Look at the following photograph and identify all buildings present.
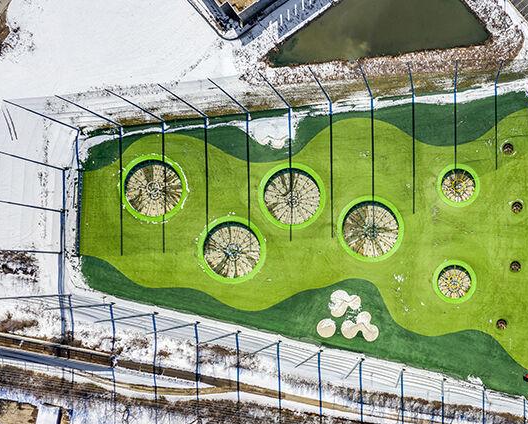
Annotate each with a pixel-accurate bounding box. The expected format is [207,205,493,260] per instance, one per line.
[37,403,66,424]
[213,0,278,26]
